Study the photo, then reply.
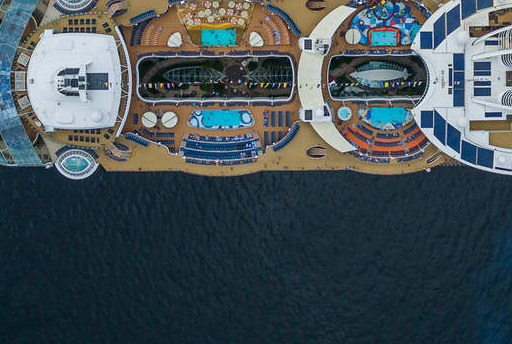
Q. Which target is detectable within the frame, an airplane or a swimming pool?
swimming pool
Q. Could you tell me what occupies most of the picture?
water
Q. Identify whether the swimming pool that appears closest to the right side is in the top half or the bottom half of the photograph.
top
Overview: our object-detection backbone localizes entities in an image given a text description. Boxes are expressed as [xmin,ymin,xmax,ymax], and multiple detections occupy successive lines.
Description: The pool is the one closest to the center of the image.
[188,108,256,131]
